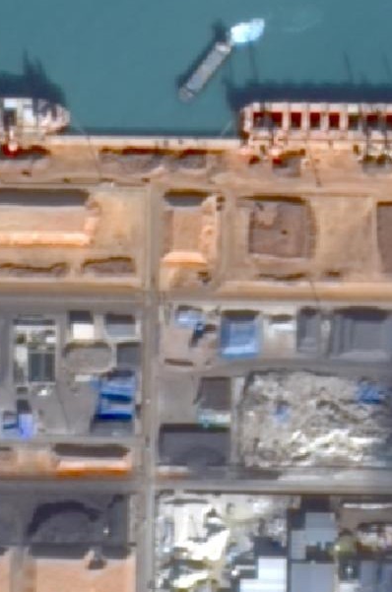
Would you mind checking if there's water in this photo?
Yes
